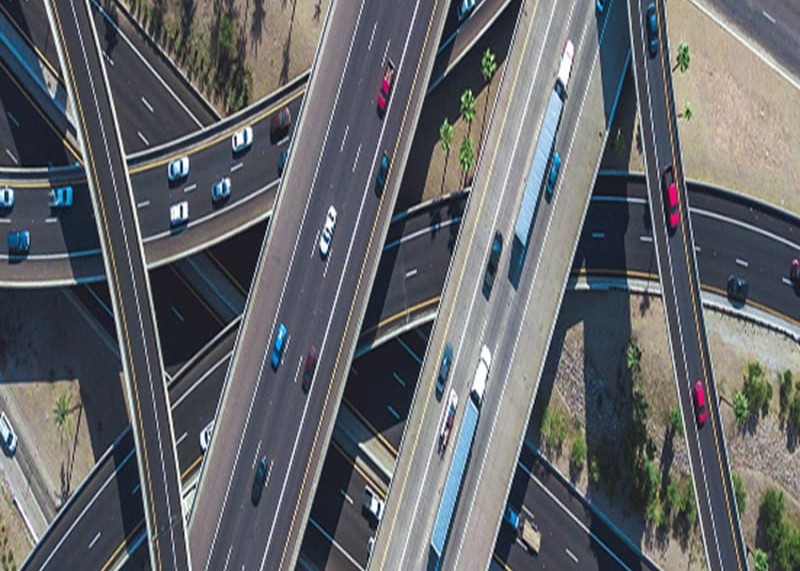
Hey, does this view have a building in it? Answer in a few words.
No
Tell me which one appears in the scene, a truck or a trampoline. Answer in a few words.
truck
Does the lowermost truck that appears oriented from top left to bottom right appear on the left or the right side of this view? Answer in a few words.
right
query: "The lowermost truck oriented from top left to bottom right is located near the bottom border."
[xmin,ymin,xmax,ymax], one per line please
[504,501,538,551]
